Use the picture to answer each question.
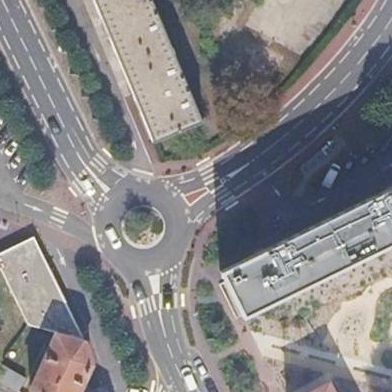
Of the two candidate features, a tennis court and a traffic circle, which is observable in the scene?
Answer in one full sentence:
I can see a traffic circle in this picture.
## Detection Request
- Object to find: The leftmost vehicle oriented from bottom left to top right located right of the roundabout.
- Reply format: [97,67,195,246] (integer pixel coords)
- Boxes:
[320,162,341,188]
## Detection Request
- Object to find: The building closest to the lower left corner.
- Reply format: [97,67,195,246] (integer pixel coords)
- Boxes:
[3,364,26,391]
